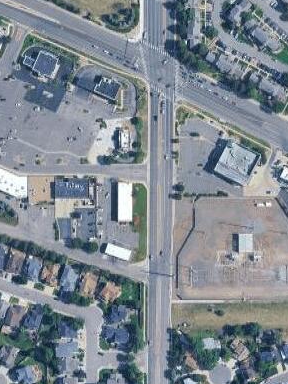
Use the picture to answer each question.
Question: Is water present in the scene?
No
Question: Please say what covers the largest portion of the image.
paved ground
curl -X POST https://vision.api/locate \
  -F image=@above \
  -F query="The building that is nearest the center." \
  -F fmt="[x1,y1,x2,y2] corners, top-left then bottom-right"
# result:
[118,183,133,222]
